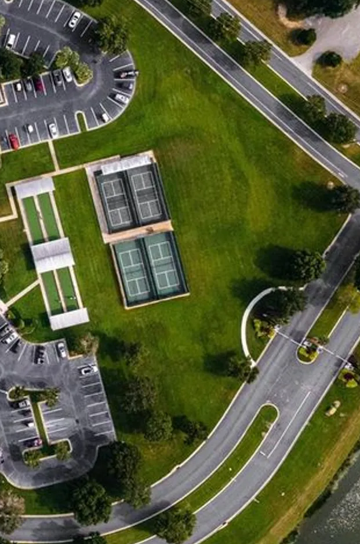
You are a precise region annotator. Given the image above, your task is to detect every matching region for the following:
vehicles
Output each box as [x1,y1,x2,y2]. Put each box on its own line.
[24,79,33,95]
[53,70,62,86]
[19,408,35,417]
[49,123,58,139]
[16,84,22,93]
[34,78,43,94]
[114,93,129,104]
[0,326,11,338]
[16,399,32,409]
[0,135,9,150]
[9,133,18,149]
[5,331,19,345]
[69,12,79,28]
[79,364,98,374]
[57,343,66,359]
[27,124,34,133]
[26,421,35,428]
[35,347,44,363]
[117,70,136,78]
[6,32,17,50]
[62,68,72,84]
[10,338,24,353]
[114,81,130,89]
